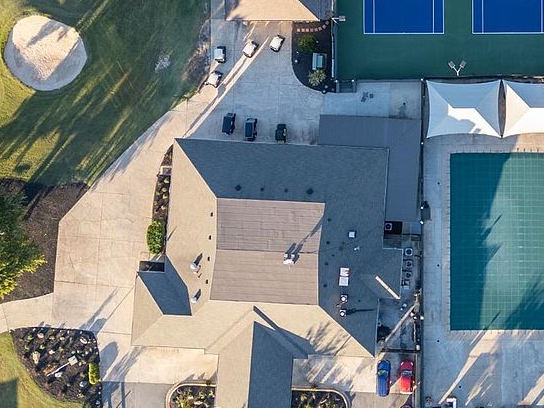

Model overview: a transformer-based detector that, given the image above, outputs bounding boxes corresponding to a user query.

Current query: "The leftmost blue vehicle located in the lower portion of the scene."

[375,361,391,398]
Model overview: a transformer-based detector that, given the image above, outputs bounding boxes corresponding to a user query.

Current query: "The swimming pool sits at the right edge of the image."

[422,80,544,408]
